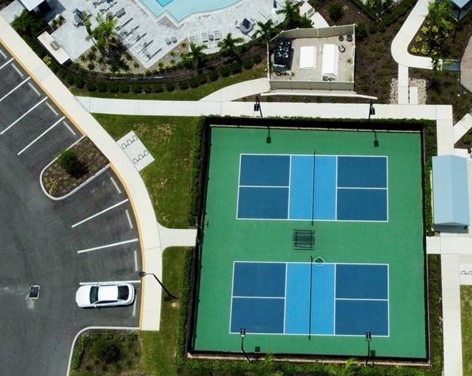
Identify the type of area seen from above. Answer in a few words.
sports ground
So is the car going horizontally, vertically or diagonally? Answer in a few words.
horizontally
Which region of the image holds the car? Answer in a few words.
bottom left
